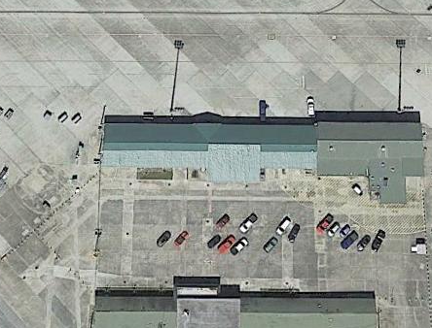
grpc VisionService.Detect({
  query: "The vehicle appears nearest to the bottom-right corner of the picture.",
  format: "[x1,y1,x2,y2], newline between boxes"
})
[411,243,427,255]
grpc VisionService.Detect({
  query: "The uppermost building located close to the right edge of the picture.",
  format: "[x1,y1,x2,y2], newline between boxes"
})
[315,122,424,203]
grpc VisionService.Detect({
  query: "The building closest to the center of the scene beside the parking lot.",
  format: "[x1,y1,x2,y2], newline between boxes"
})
[101,123,318,183]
